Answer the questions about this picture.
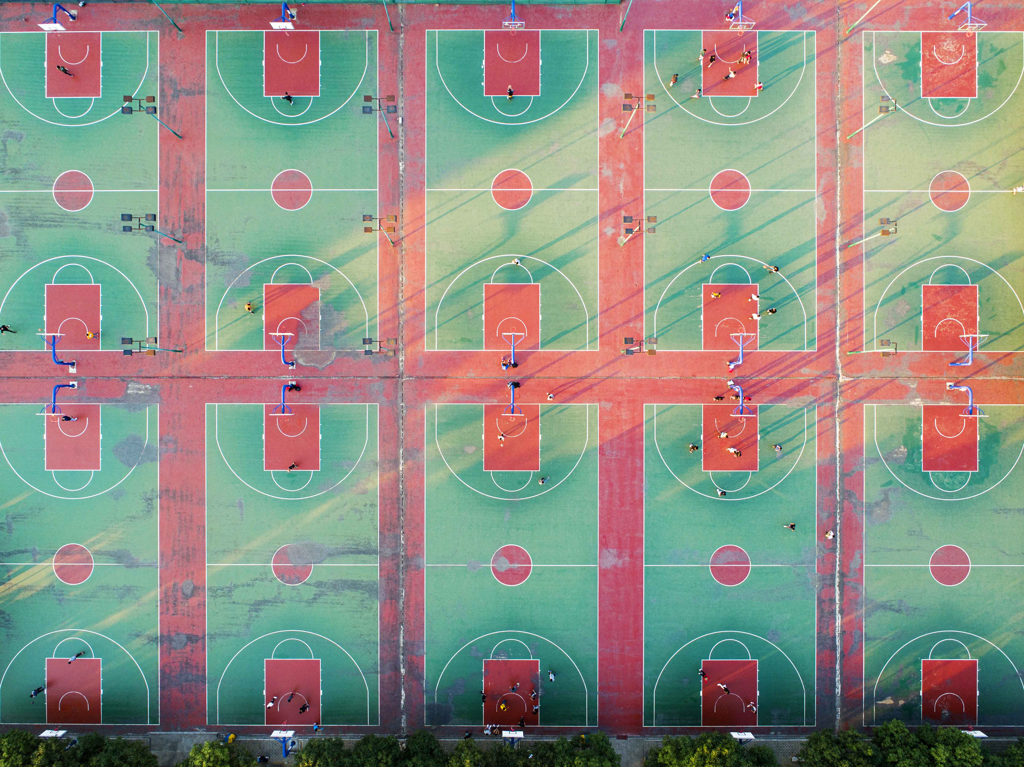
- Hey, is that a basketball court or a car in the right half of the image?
basketball court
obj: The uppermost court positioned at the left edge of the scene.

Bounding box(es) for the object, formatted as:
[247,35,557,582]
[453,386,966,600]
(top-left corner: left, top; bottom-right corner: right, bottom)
[0,30,159,351]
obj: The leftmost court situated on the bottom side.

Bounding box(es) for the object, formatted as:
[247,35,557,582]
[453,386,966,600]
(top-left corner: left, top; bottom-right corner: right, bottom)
[0,404,159,725]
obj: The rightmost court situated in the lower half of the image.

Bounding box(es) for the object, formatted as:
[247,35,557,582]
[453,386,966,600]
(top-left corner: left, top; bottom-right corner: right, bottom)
[864,404,1024,725]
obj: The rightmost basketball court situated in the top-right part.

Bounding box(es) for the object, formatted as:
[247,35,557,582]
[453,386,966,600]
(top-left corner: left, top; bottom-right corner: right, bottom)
[864,30,1024,351]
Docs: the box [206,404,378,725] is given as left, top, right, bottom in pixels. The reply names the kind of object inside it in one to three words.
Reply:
basketball court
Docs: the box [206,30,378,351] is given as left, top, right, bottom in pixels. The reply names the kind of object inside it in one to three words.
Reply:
basketball court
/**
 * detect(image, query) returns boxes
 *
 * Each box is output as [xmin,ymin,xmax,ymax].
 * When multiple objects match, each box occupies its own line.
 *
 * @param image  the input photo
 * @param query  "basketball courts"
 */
[206,404,378,725]
[864,30,1024,351]
[426,30,598,351]
[0,30,159,351]
[206,30,378,351]
[864,404,1024,725]
[0,404,159,725]
[644,404,816,725]
[426,404,597,725]
[644,30,816,351]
